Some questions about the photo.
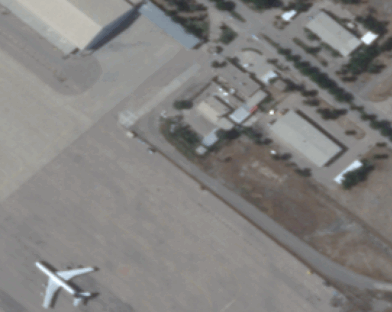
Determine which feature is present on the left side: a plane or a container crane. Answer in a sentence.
The feature located on the left side is a plane.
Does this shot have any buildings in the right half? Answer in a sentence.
Yes, a building is visible in the right half.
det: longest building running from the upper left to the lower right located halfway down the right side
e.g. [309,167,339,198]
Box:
[271,110,343,166]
